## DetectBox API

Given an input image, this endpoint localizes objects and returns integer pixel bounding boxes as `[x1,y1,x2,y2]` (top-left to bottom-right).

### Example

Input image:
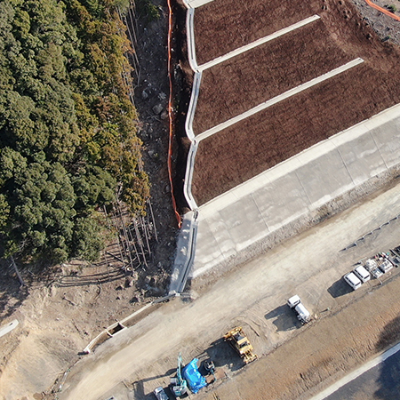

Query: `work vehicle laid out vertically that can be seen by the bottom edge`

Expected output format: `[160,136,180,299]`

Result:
[173,358,190,400]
